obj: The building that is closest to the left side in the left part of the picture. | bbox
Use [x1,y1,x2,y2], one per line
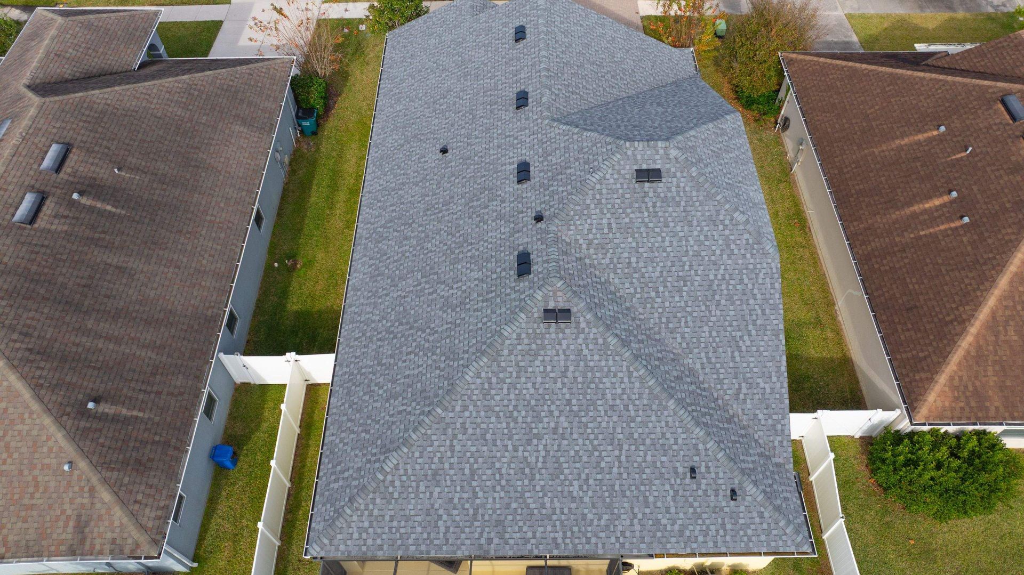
[0,6,300,573]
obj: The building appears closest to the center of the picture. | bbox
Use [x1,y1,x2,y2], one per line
[304,0,814,575]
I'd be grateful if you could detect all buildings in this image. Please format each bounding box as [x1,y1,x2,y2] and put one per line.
[304,0,814,575]
[0,6,300,573]
[773,31,1024,450]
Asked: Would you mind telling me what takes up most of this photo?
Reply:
buildings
